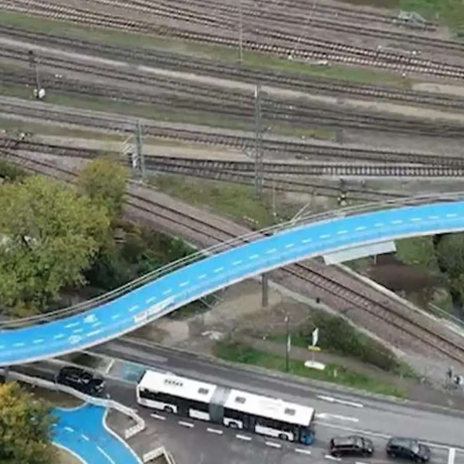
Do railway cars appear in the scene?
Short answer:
No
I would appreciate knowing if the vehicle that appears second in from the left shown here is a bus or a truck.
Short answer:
bus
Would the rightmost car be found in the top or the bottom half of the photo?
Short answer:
bottom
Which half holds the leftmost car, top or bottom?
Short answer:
bottom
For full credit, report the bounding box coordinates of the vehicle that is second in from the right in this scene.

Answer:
[329,433,376,458]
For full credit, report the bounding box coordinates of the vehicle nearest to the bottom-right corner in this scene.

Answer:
[385,433,434,463]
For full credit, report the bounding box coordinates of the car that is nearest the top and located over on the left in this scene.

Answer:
[56,361,104,391]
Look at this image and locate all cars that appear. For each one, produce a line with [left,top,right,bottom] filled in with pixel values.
[385,433,434,463]
[56,361,104,391]
[329,433,376,458]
